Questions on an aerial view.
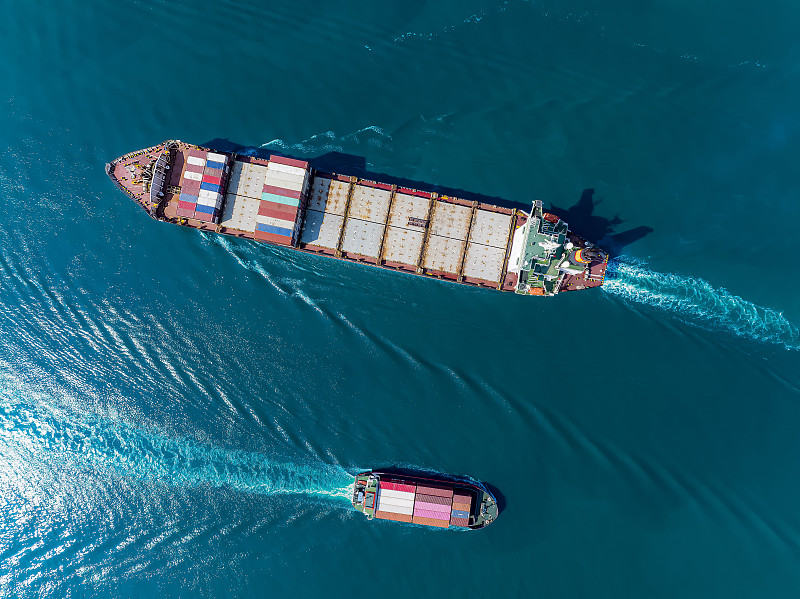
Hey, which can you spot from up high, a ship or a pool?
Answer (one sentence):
Looking from above, you can make out a ship.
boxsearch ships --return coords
[104,140,609,298]
[352,467,499,530]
